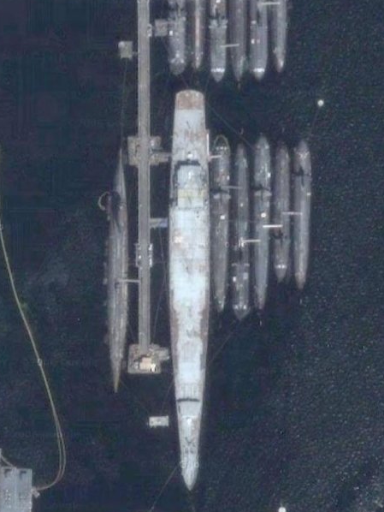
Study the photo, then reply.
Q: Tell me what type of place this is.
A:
port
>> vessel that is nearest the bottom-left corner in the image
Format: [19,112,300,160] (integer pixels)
[0,469,32,512]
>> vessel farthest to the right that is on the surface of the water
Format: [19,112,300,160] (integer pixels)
[294,140,311,295]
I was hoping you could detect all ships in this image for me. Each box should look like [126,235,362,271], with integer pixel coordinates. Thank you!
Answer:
[209,0,227,81]
[294,140,311,295]
[254,136,271,317]
[231,0,246,88]
[0,469,32,512]
[170,89,210,491]
[168,0,186,73]
[233,145,251,320]
[190,0,206,79]
[273,0,288,71]
[107,151,127,390]
[273,144,291,281]
[212,138,230,318]
[250,0,268,79]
